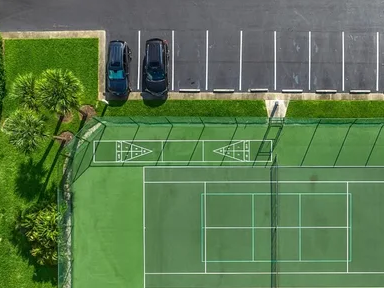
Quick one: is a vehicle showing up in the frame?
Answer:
Yes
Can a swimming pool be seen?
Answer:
No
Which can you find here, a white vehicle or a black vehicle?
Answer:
black vehicle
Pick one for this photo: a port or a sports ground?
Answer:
sports ground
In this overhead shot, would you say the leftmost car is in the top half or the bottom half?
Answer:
top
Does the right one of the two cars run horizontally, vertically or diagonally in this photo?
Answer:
vertically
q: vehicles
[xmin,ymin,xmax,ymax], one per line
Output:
[141,40,169,99]
[105,42,132,96]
